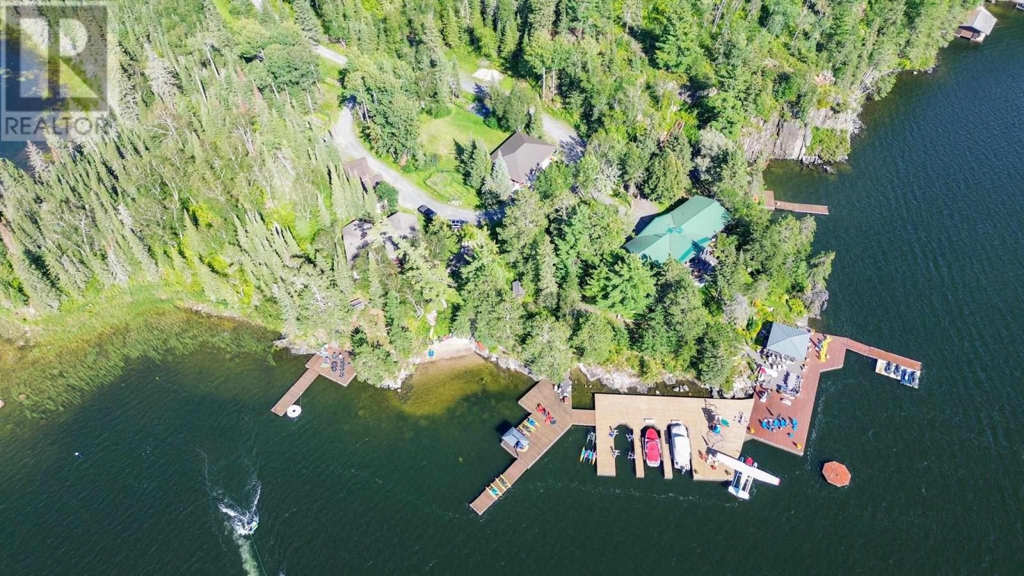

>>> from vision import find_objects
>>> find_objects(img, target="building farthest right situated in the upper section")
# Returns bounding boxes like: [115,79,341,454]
[951,7,997,38]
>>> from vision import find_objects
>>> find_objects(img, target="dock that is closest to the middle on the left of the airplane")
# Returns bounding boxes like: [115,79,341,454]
[500,379,572,470]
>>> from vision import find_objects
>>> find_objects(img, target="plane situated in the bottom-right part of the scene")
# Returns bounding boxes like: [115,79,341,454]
[714,452,781,496]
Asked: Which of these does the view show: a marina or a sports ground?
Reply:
marina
